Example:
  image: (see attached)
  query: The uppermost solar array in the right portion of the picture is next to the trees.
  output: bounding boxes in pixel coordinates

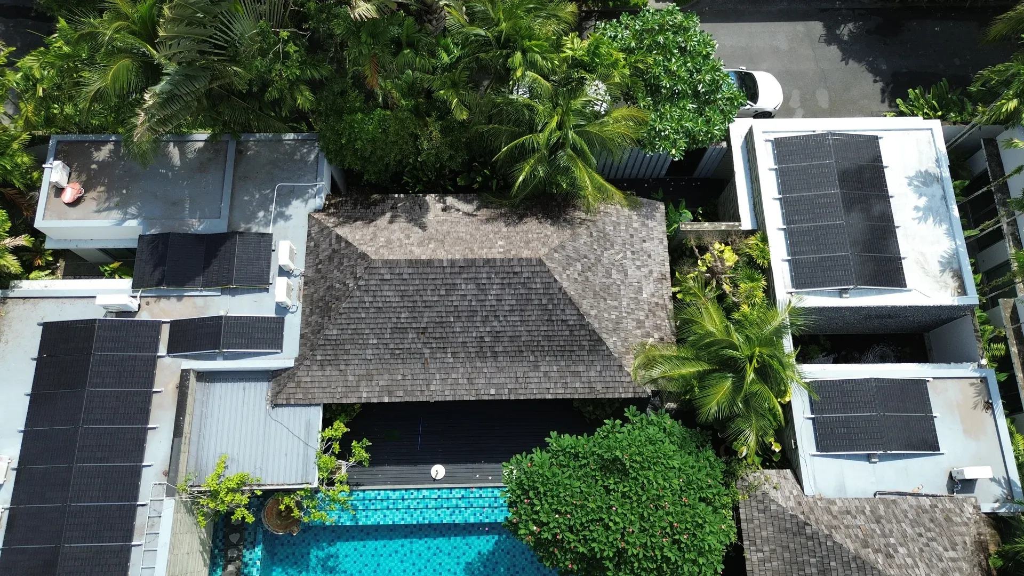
[760,130,915,294]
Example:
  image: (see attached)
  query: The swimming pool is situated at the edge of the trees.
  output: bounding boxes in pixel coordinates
[219,481,637,576]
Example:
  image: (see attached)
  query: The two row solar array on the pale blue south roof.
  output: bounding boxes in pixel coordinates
[801,376,951,460]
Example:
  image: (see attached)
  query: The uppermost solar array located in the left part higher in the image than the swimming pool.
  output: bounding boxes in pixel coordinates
[127,233,281,290]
